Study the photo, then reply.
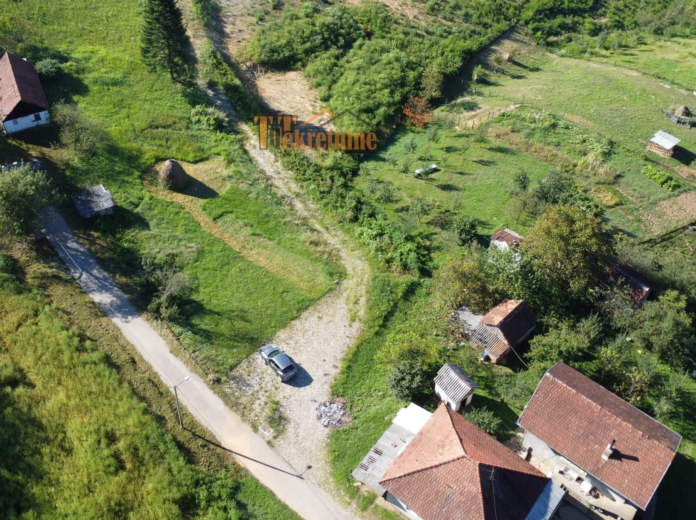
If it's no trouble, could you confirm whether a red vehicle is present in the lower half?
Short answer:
No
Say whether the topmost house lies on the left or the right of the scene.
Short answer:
left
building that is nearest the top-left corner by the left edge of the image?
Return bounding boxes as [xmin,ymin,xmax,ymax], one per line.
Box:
[0,53,49,131]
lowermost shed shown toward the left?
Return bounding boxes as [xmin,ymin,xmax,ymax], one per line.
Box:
[72,184,115,227]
